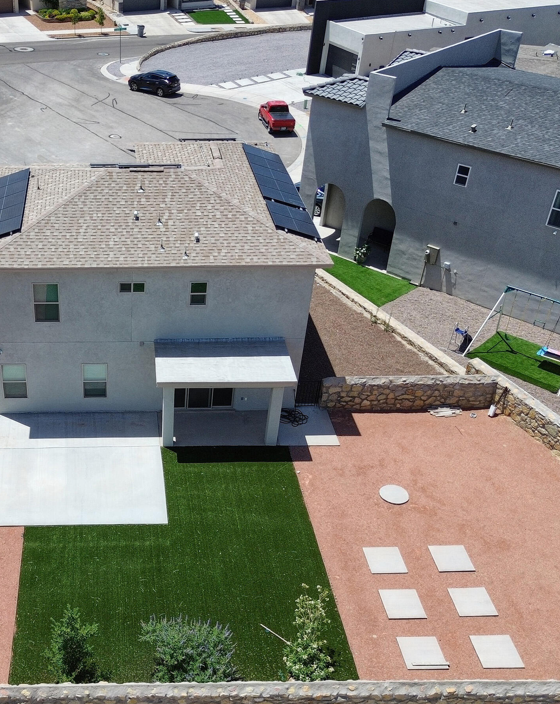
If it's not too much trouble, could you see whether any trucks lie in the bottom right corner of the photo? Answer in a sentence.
No, looking in the bottom right corner of the photo, there is no truck.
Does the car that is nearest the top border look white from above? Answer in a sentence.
No, the color of the car that is nearest the top border is black.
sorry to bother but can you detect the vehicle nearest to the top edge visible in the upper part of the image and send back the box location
[129,68,183,96]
